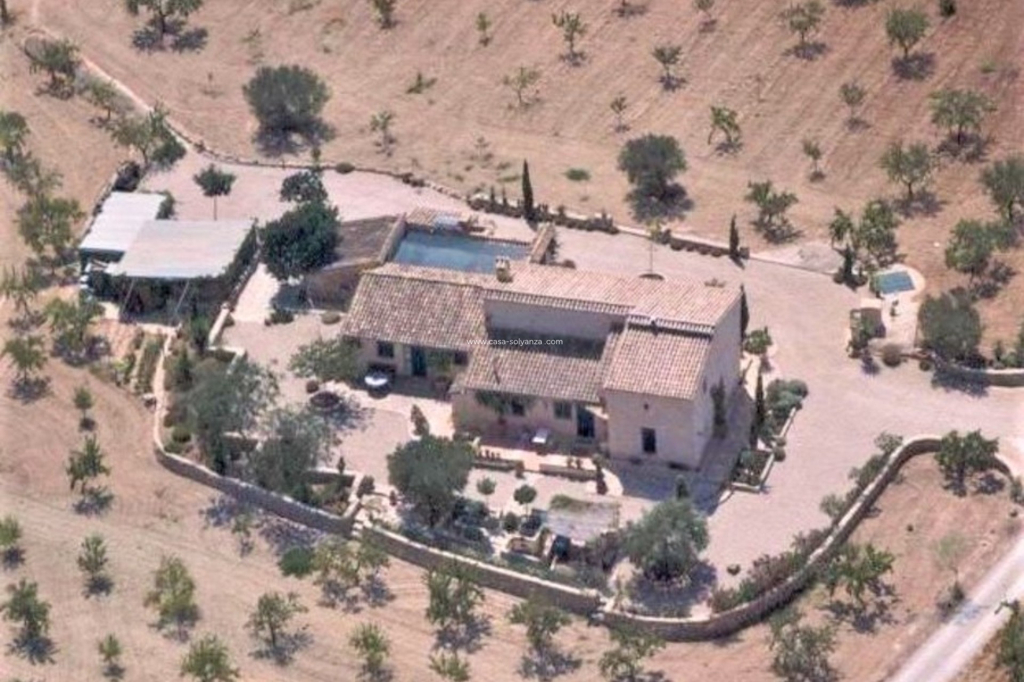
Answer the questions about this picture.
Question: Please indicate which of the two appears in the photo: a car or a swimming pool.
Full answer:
The one in the frame is a swimming pool.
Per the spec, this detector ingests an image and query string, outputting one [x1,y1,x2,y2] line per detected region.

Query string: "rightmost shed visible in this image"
[853,304,885,341]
